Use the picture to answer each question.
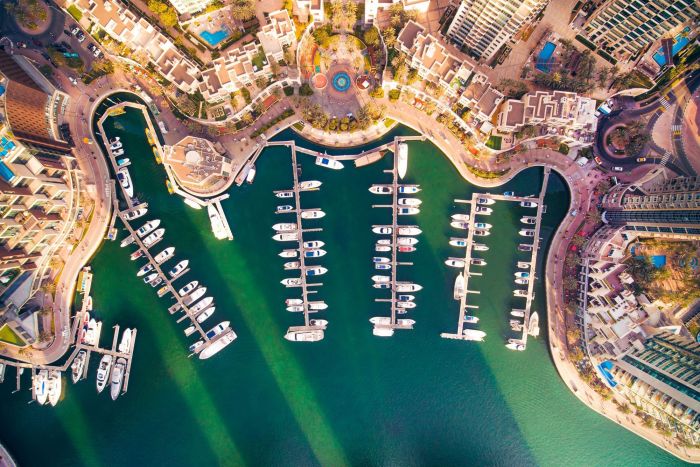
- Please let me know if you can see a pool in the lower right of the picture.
Yes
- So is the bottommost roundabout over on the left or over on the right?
right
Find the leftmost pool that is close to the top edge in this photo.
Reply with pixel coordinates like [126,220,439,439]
[188,5,240,50]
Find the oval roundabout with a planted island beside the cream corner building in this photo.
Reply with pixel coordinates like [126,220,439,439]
[593,108,659,169]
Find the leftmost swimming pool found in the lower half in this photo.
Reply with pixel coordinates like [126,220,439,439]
[591,358,619,394]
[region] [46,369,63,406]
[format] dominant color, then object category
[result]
white boat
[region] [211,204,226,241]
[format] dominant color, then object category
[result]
white boat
